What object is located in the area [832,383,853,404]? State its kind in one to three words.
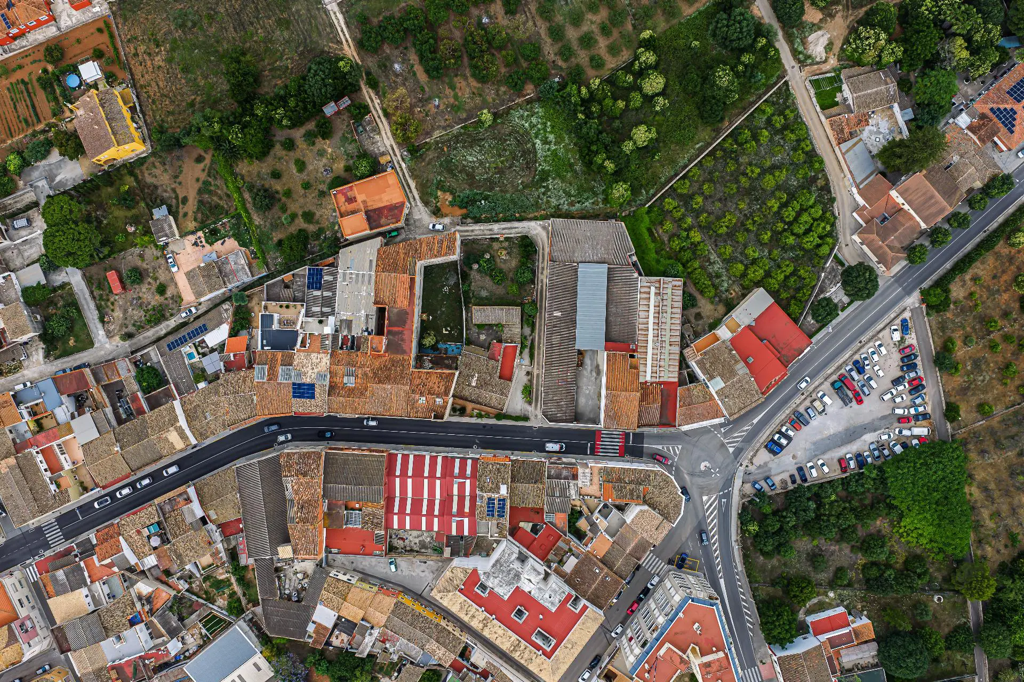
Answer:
truck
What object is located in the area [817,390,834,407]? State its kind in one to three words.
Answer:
car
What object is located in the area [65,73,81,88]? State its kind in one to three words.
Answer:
swimming pool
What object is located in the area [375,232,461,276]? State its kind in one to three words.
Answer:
house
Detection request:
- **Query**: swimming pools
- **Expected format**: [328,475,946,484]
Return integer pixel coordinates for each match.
[181,343,201,361]
[65,73,81,88]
